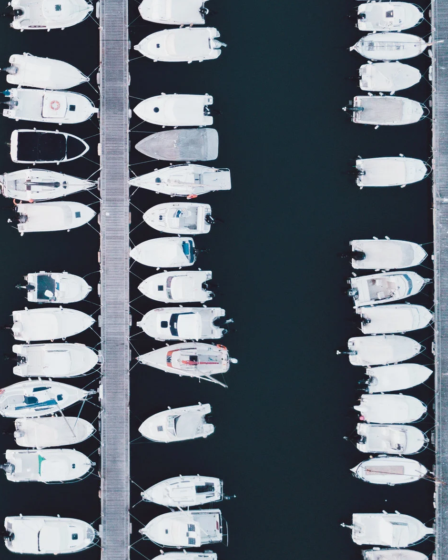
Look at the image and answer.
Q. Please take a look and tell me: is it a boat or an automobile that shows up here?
boat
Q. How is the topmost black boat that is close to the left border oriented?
horizontally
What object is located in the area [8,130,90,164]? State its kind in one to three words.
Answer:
boat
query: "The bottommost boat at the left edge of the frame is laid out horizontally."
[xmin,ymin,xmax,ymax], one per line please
[0,515,99,555]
